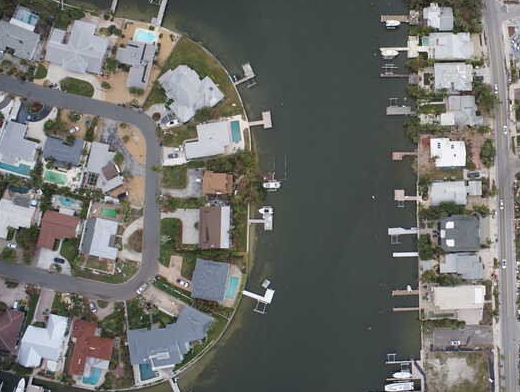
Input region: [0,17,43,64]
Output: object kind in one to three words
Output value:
house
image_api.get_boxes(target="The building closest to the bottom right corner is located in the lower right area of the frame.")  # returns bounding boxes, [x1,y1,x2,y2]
[434,285,486,324]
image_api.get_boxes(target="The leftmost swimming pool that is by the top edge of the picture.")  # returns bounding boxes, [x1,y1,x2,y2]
[10,5,40,27]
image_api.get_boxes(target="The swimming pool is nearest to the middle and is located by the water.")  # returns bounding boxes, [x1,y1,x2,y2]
[228,115,247,153]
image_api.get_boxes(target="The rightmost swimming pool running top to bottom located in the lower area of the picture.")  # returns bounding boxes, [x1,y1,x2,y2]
[226,263,245,302]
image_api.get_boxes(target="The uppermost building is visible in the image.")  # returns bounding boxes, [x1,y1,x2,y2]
[423,3,454,31]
